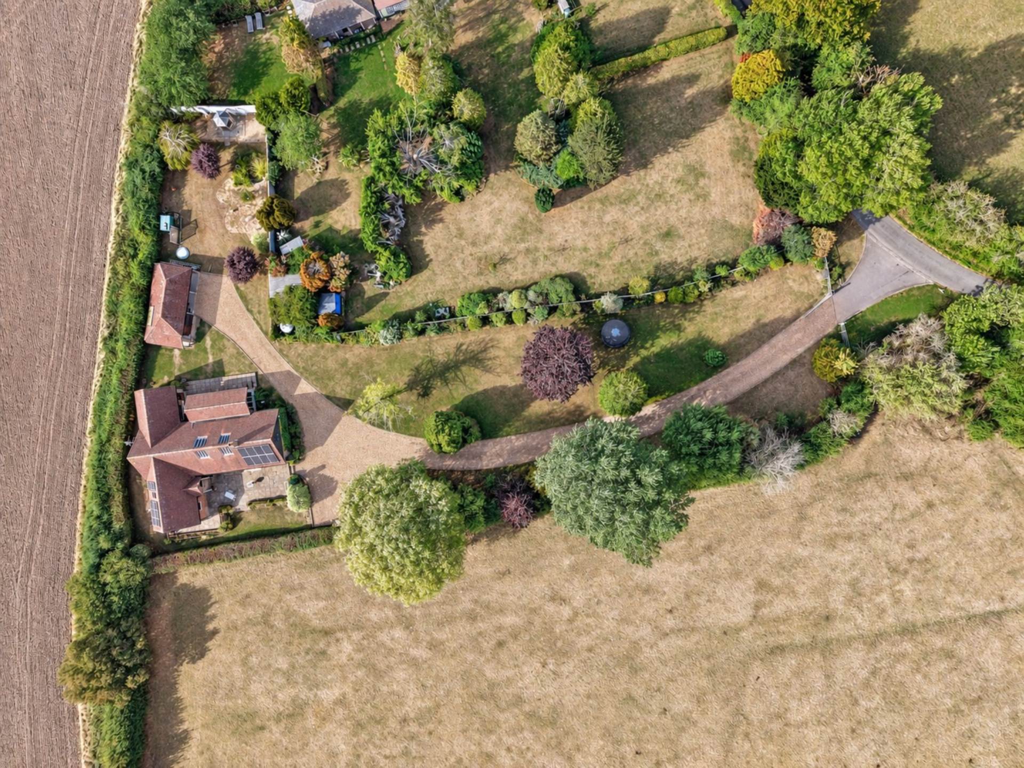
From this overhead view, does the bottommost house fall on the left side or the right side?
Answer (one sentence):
The bottommost house appears in the left half of the scene.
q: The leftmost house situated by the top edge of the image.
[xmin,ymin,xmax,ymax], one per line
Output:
[300,0,379,41]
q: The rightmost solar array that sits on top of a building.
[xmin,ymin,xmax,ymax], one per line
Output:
[236,443,280,468]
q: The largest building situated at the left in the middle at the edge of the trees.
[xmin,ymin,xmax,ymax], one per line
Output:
[126,385,289,530]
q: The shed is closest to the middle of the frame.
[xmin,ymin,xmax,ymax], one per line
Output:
[319,293,344,315]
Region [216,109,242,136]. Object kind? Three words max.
gazebo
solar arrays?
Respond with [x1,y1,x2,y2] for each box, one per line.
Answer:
[236,443,280,468]
[150,500,161,527]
